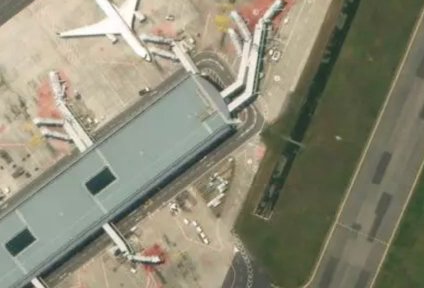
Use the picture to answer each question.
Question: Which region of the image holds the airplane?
top left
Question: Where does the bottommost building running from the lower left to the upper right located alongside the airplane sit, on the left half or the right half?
left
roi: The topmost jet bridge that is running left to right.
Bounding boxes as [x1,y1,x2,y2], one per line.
[140,35,178,47]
